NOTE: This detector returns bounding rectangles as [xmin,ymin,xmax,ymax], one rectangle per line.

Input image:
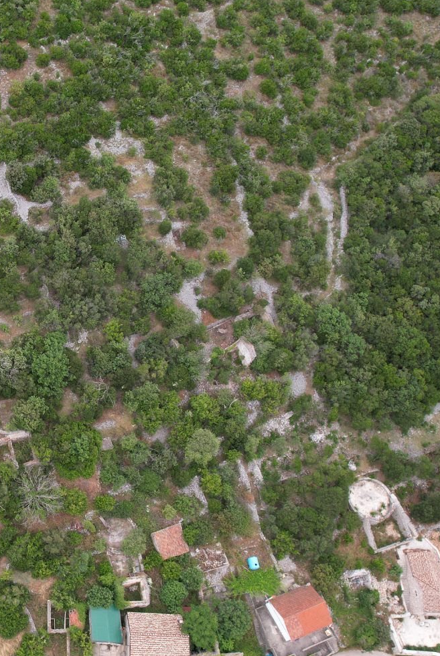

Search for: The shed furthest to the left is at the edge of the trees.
[46,601,84,635]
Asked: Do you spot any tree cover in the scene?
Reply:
Yes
